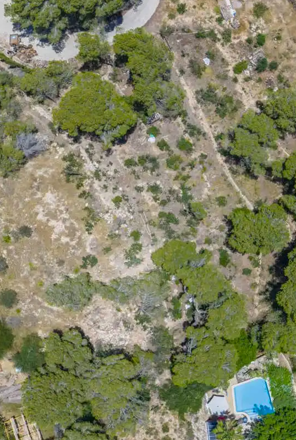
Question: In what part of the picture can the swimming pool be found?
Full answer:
The swimming pool is located in the bottom right region of the scene.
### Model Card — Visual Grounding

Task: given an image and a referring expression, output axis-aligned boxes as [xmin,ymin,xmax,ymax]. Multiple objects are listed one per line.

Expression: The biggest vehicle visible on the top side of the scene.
[3,32,20,52]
